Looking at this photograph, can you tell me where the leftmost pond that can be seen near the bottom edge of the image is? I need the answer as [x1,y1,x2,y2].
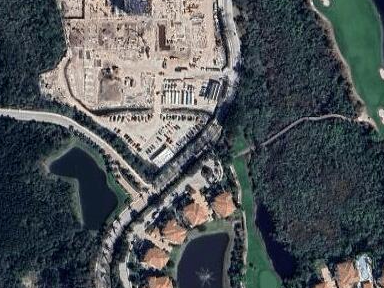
[178,231,230,288]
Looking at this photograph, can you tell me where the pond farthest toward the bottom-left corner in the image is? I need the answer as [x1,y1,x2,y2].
[48,146,118,229]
